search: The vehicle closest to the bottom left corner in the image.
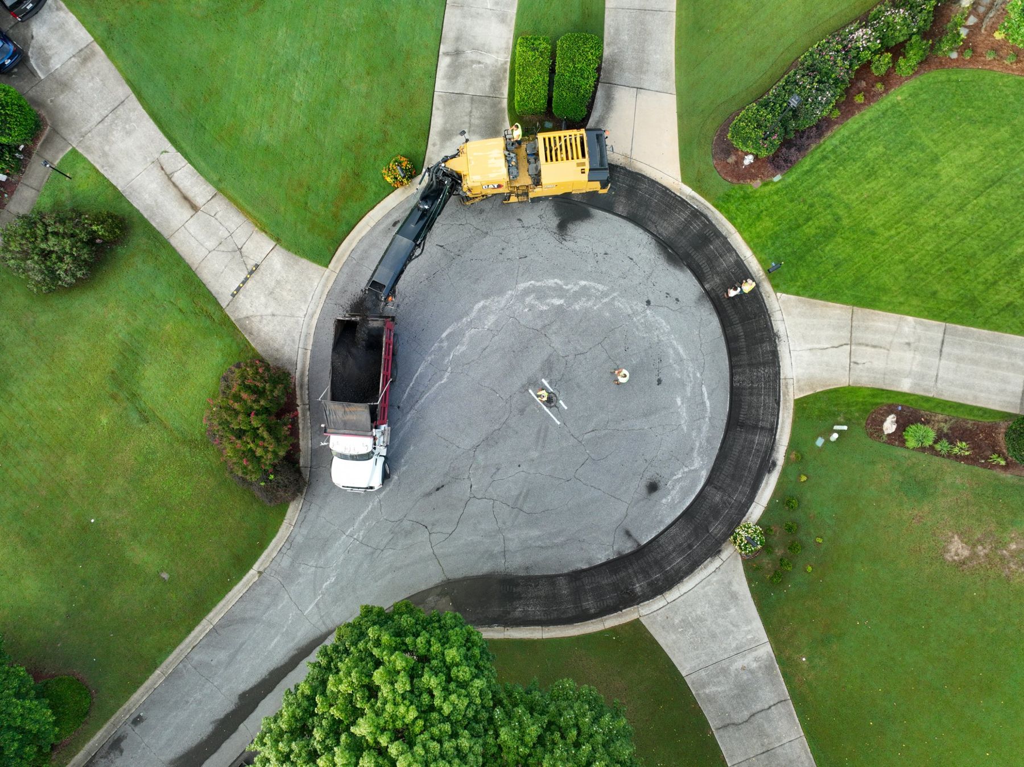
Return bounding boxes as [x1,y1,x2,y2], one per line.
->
[321,316,396,495]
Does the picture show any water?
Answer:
No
